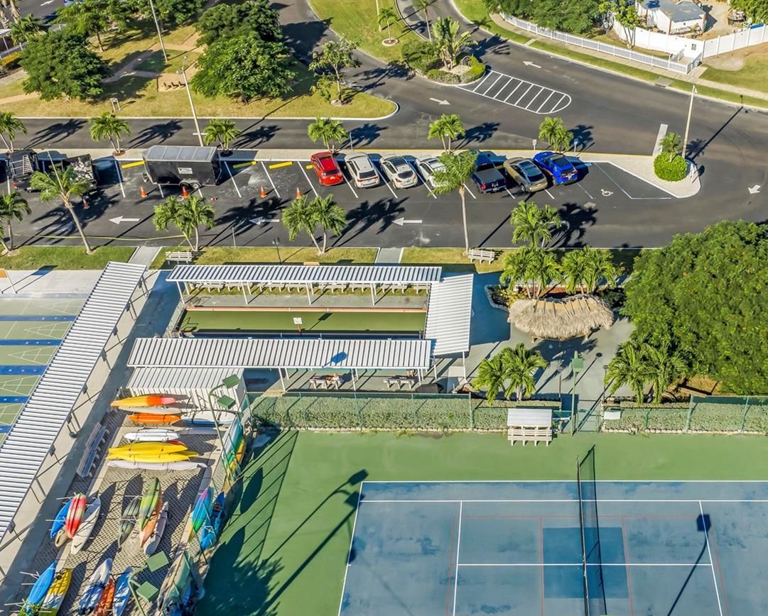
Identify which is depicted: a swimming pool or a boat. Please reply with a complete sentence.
Visible in the photo is a boat.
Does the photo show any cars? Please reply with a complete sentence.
Yes, the image includes a car.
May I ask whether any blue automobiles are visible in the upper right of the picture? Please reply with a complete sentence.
Yes, looking in the upper right of the picture, one can make out a blue automobile.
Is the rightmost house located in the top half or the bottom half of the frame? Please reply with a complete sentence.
The rightmost house is in the top half of the image.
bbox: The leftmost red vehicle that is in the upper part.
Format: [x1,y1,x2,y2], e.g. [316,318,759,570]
[312,153,345,185]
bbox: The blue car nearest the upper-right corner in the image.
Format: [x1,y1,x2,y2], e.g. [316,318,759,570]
[539,150,584,183]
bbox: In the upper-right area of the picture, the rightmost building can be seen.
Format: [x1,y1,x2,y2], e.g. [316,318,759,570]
[644,0,706,36]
